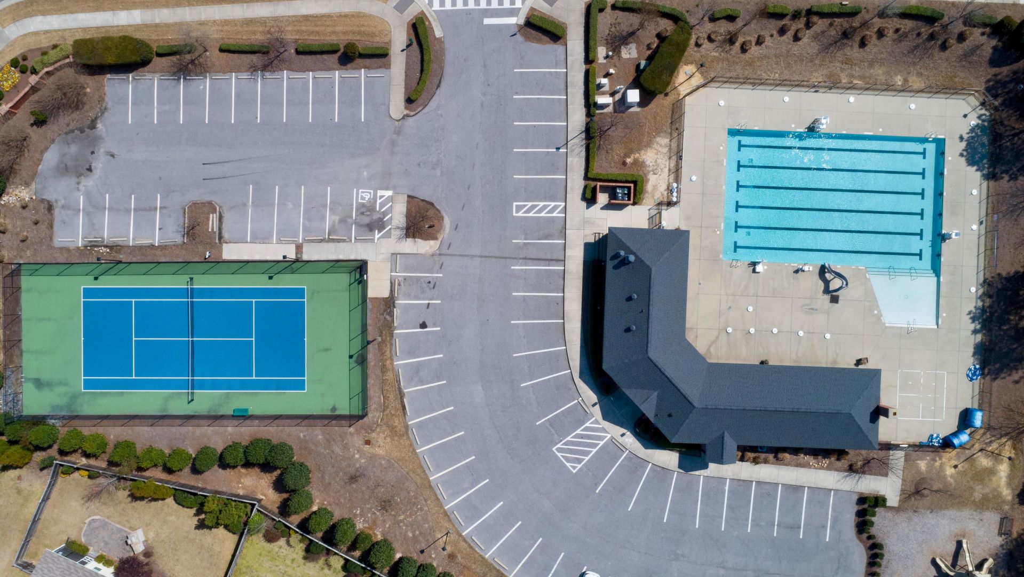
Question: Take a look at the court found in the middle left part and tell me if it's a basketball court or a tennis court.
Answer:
tennis court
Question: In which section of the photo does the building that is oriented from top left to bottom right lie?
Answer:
right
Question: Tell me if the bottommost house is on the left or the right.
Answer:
left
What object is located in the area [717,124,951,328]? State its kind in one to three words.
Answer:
swimming pool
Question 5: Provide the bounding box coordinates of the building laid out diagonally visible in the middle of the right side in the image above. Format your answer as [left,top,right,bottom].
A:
[602,226,897,464]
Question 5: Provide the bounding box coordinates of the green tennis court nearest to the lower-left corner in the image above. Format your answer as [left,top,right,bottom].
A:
[21,263,367,415]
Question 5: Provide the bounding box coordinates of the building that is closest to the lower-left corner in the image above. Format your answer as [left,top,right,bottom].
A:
[26,528,126,577]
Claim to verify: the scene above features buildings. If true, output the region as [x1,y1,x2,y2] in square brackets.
[26,528,126,577]
[602,226,897,464]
